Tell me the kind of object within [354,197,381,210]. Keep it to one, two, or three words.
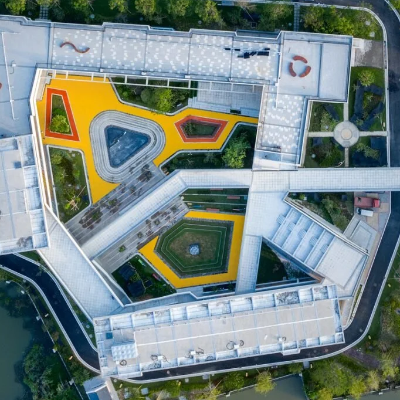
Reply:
vehicle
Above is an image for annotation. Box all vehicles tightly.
[354,197,381,210]
[357,209,374,218]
